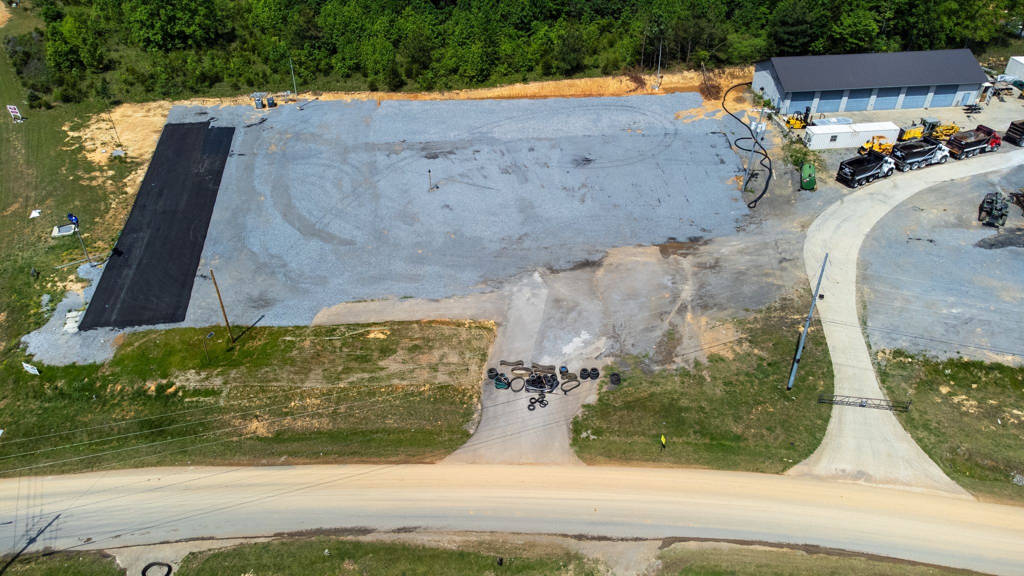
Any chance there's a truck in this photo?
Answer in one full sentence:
Yes, the photo shows a truck.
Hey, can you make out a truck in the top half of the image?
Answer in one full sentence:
Yes, you'll find a truck in the top half of the image.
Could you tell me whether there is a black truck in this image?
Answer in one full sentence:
Yes, the photo shows a black truck.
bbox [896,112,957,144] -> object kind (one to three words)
work vehicle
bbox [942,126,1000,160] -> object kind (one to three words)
truck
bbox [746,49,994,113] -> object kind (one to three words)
building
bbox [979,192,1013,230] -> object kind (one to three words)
work vehicle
